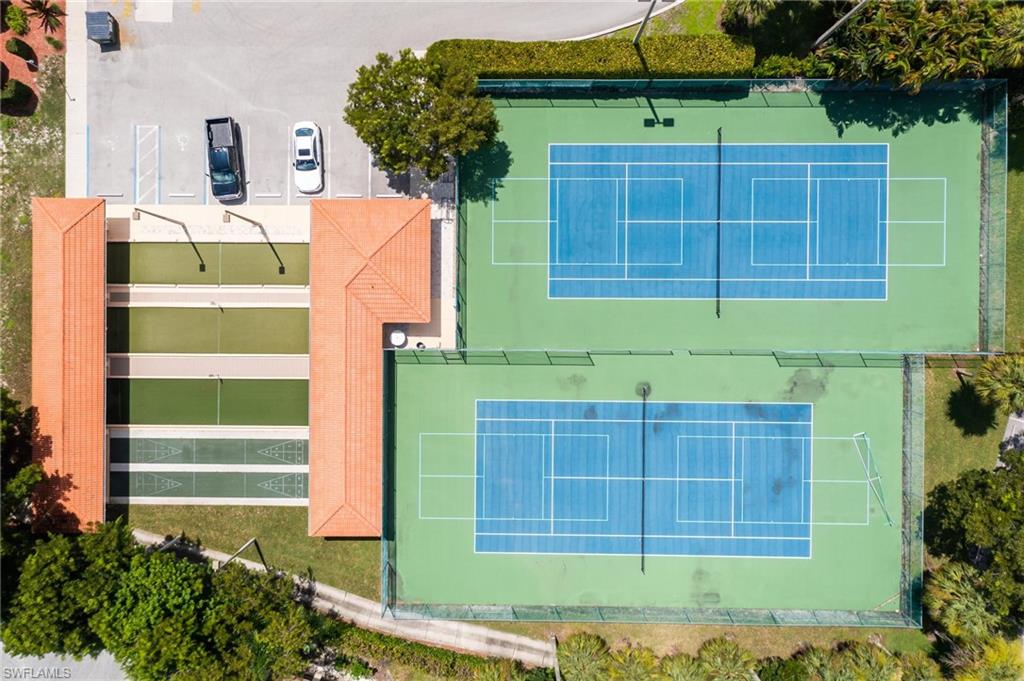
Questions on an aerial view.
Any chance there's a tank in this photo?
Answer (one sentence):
No, this view has no tank in it.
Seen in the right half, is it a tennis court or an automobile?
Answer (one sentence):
What appears in the right half is a tennis court.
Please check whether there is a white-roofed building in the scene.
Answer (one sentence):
No, I can't see a single white-roofed building in this photo.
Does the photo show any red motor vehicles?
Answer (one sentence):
No, the photo shows no red motor vehicle.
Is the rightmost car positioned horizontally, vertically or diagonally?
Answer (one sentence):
In this picture, the rightmost car is oriented vertically.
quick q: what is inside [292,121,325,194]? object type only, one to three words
car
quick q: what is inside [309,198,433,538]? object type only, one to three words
building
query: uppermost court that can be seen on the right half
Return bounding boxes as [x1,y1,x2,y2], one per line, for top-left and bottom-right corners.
[459,95,981,350]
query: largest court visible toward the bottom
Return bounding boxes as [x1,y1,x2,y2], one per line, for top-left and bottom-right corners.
[388,350,904,610]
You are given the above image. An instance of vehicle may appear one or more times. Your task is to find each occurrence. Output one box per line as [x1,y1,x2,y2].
[204,115,245,200]
[292,121,325,194]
